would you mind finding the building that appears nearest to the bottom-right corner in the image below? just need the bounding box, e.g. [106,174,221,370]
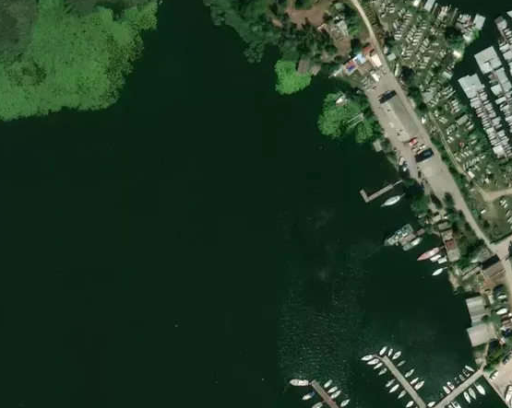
[467,323,496,346]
